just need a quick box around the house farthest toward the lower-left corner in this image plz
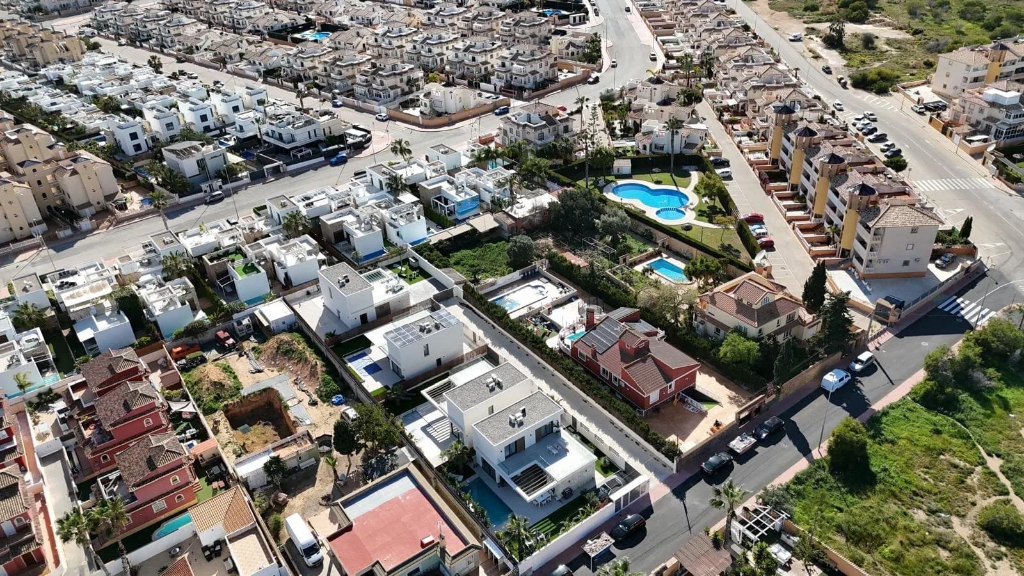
[0,451,52,539]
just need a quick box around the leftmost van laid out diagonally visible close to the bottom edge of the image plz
[281,510,318,559]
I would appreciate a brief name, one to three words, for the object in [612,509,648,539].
car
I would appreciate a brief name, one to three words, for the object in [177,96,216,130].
house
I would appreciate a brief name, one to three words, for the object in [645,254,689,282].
swimming pool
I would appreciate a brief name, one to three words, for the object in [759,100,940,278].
building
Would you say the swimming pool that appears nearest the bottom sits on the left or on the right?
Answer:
left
